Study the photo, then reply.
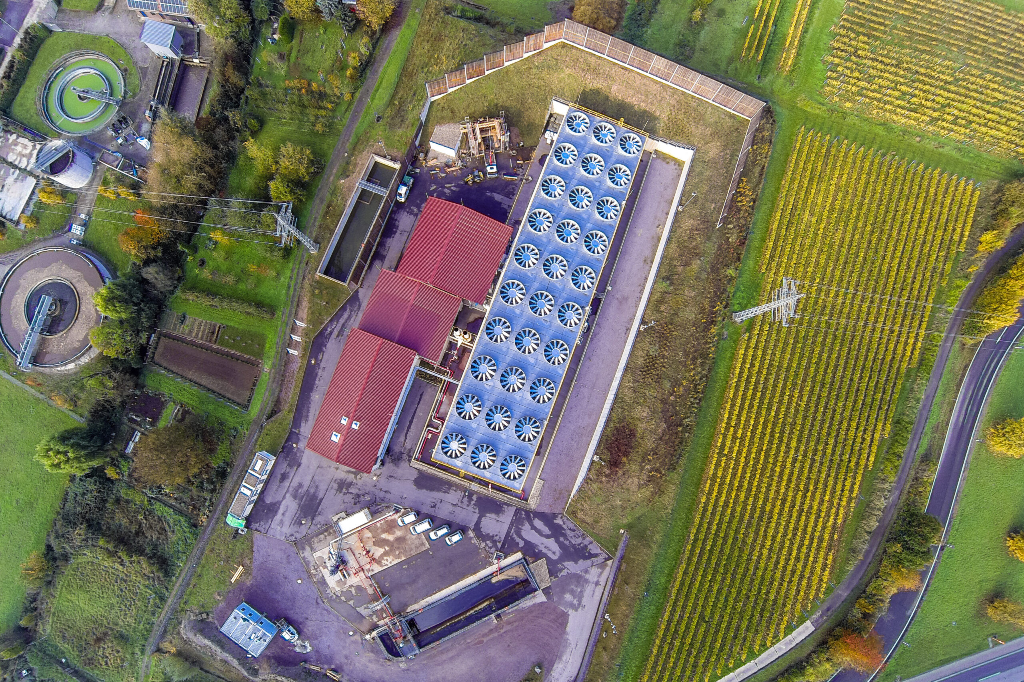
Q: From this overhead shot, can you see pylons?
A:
Yes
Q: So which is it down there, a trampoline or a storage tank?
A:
storage tank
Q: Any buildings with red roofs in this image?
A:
Yes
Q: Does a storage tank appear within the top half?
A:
Yes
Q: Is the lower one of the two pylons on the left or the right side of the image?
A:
right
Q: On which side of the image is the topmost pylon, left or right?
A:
left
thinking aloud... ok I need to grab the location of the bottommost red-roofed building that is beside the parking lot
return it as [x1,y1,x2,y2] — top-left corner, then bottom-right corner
[302,326,419,475]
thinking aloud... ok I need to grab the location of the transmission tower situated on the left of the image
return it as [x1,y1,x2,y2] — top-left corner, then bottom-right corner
[274,208,322,257]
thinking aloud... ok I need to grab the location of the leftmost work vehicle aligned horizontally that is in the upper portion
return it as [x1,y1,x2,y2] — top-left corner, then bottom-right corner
[460,167,486,181]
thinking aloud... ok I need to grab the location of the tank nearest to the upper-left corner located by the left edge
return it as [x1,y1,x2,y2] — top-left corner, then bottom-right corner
[39,54,127,137]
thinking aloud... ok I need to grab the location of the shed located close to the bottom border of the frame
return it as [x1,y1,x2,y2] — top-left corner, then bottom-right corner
[220,599,281,659]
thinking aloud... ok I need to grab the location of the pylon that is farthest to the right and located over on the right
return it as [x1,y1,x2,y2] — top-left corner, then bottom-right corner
[732,278,804,324]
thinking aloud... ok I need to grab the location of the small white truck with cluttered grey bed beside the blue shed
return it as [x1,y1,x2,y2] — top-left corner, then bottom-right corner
[272,612,300,648]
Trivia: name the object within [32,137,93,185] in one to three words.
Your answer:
storage tank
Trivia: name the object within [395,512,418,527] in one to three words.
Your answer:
car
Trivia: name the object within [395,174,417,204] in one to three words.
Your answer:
truck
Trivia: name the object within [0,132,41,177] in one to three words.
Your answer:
building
